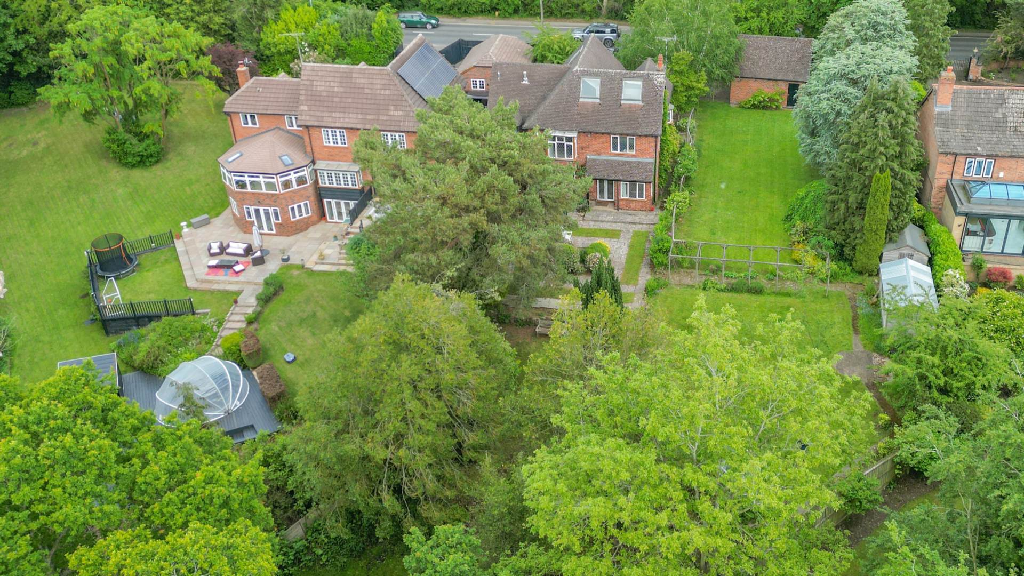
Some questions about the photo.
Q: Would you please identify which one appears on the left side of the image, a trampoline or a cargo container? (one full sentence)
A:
The feature located on the left side of the image is a trampoline.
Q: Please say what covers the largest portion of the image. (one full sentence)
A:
What you mostly see from above here is trees.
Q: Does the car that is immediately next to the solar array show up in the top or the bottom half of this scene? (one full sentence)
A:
The car that is immediately next to the solar array is in the top half of the image.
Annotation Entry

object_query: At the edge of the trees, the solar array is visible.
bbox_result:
[396,36,452,94]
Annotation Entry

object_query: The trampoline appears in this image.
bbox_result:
[84,230,135,279]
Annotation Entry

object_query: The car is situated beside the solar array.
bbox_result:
[396,9,441,31]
